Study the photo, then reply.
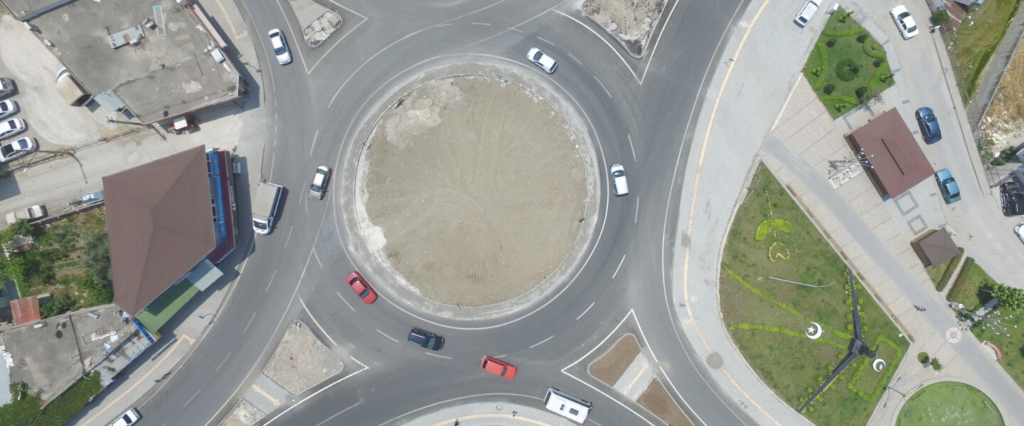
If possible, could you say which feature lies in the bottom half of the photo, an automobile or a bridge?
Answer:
automobile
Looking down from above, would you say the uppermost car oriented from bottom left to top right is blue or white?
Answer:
white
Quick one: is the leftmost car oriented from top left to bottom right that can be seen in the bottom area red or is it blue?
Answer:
red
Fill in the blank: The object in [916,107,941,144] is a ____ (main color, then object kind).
blue car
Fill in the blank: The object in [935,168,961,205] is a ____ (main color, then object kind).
blue car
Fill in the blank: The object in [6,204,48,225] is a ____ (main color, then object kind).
white car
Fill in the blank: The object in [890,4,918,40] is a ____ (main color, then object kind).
white car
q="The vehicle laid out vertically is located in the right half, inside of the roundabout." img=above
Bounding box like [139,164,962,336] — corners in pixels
[610,163,629,197]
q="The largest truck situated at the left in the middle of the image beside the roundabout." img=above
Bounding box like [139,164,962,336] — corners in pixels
[255,182,284,233]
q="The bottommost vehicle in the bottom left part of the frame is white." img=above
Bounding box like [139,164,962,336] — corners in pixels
[106,406,141,426]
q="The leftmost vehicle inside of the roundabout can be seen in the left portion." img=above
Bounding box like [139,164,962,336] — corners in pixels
[310,164,332,201]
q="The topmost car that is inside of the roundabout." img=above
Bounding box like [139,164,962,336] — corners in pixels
[526,47,560,75]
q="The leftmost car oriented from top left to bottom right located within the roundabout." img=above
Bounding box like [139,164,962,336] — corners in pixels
[345,271,379,305]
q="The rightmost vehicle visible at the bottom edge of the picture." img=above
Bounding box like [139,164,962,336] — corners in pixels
[545,388,592,424]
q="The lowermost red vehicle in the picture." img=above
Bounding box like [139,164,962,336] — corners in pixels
[479,355,518,379]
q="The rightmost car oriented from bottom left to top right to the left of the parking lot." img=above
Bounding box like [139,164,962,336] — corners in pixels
[793,0,824,28]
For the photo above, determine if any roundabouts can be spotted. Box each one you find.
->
[285,5,658,378]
